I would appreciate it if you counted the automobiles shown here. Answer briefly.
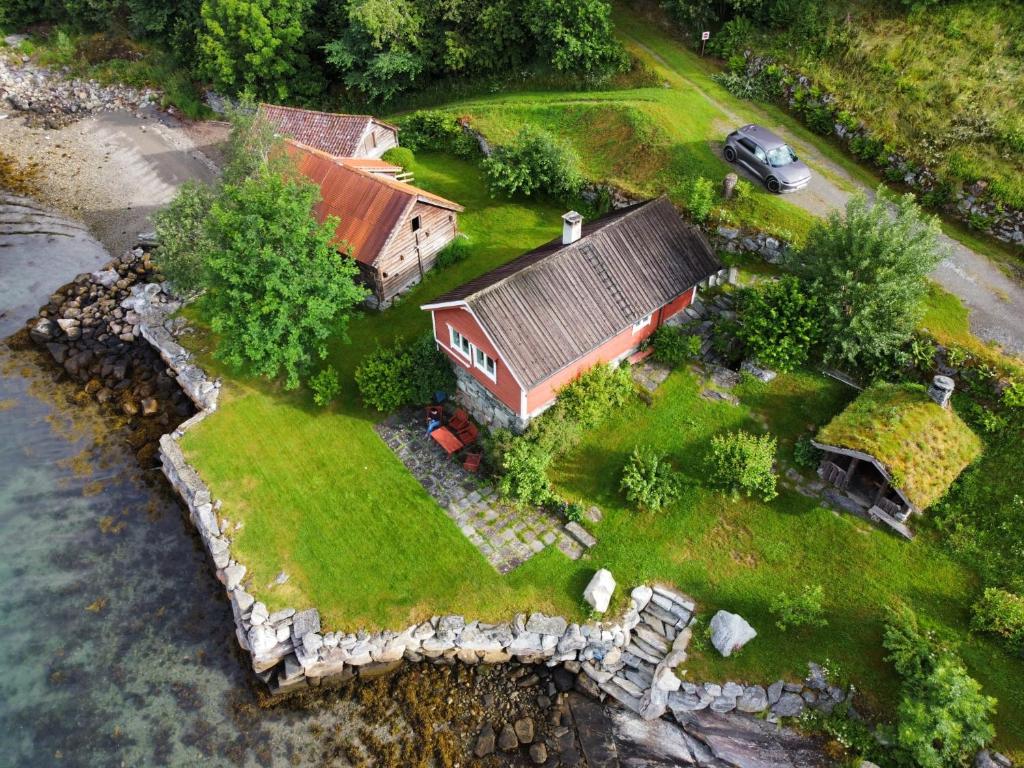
one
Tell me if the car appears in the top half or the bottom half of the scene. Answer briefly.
top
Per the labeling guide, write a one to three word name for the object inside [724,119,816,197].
car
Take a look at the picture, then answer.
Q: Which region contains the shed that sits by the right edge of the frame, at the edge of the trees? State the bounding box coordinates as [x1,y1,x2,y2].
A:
[810,381,985,531]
